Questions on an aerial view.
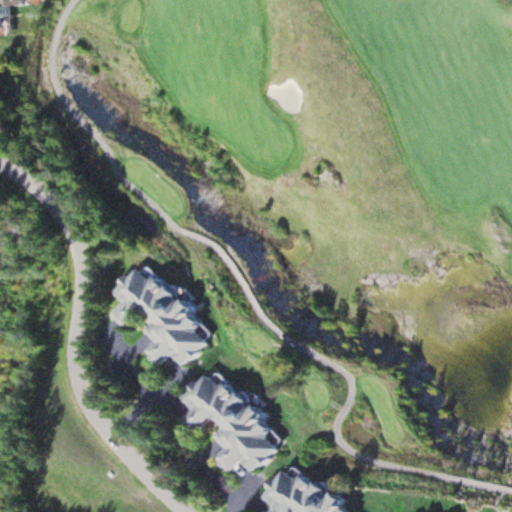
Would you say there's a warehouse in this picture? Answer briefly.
No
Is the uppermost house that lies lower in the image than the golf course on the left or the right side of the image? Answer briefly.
left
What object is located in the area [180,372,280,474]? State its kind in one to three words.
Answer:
house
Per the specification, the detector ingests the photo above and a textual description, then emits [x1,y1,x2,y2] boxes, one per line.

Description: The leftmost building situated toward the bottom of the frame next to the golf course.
[110,268,211,368]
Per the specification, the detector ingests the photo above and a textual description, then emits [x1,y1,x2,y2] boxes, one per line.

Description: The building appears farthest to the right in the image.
[256,466,351,512]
